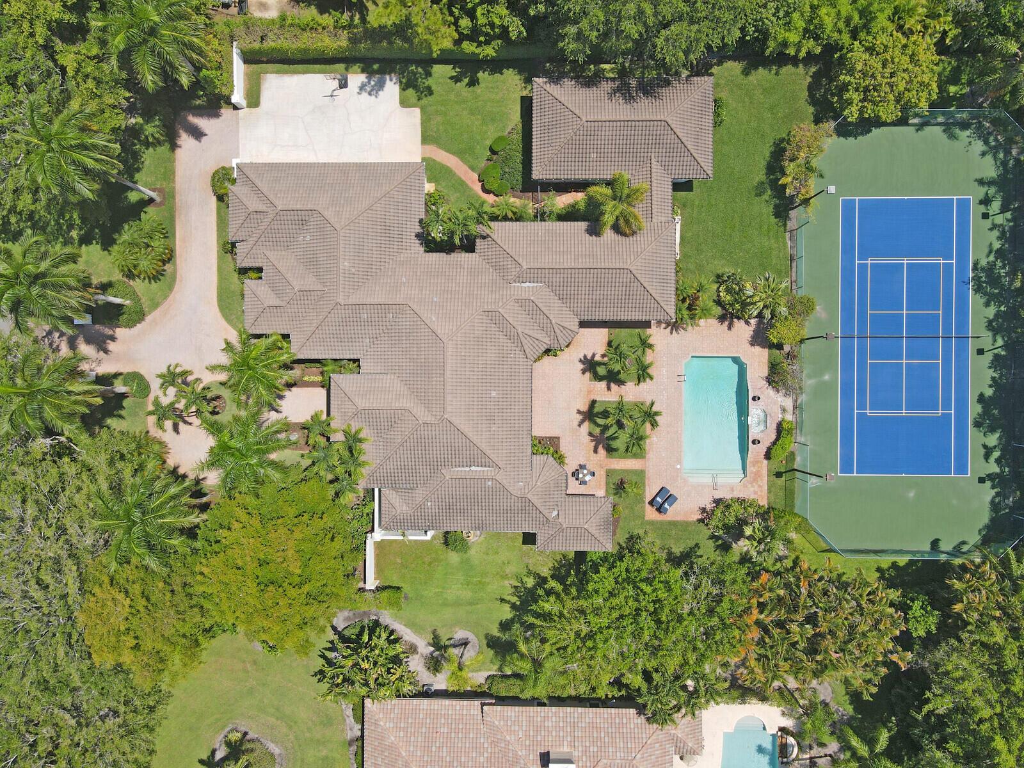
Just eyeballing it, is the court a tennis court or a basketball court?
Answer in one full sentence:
The court is a tennis court.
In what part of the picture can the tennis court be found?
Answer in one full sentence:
Look in the right portion of the view to spot the tennis court.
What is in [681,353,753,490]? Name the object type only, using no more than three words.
swimming pool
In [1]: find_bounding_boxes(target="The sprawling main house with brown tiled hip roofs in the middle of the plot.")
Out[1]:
[227,161,677,551]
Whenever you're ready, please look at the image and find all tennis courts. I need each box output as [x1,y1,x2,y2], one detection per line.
[796,126,1015,550]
